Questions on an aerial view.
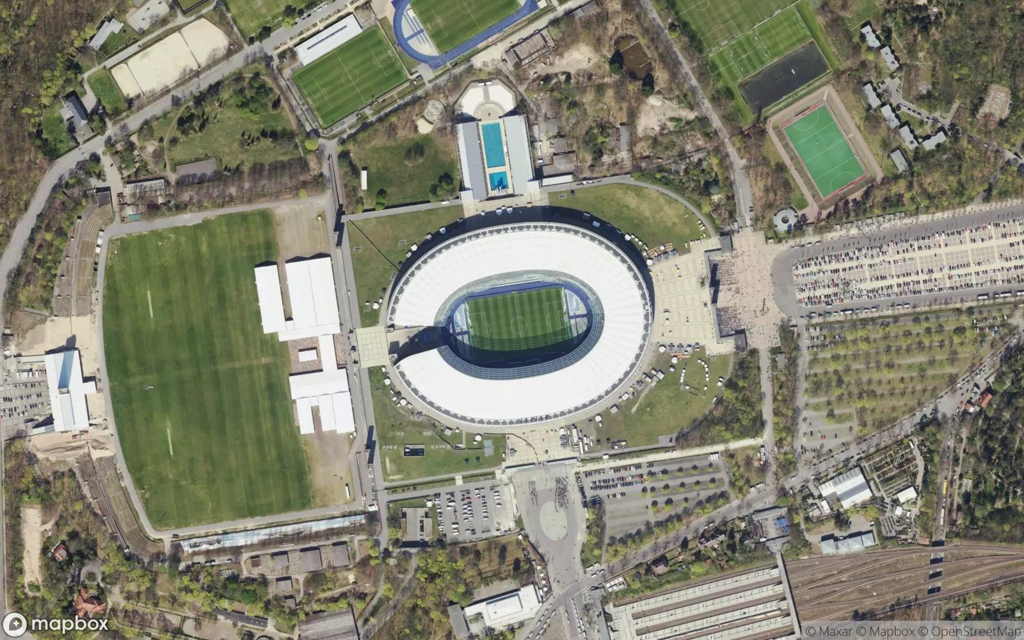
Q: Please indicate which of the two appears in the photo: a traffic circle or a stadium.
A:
stadium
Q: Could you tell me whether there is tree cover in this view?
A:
Yes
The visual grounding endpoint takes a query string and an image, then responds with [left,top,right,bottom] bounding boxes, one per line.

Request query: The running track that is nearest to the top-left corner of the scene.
[393,0,547,74]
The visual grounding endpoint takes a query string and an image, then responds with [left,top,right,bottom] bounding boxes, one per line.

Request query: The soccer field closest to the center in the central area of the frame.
[465,286,573,365]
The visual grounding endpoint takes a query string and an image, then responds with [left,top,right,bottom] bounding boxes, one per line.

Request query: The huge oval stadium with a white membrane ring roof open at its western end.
[385,221,654,428]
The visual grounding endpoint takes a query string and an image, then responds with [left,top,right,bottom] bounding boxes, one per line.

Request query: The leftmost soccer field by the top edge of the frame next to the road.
[293,24,408,127]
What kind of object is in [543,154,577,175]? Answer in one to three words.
shed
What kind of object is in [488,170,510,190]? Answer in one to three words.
swimming pool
